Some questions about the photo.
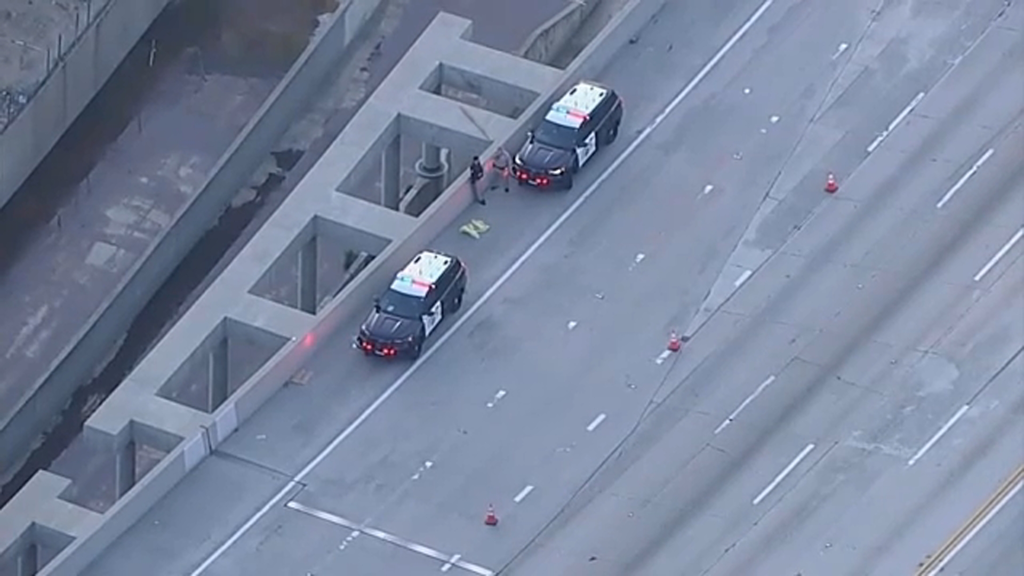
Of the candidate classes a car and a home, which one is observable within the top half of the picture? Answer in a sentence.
What appears within the top half of the picture is a car.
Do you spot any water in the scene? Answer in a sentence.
No, there is no water in the image.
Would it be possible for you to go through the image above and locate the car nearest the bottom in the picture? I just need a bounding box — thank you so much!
[358,247,464,362]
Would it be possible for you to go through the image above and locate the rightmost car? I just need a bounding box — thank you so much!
[515,80,621,191]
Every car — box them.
[358,247,464,362]
[515,80,621,191]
